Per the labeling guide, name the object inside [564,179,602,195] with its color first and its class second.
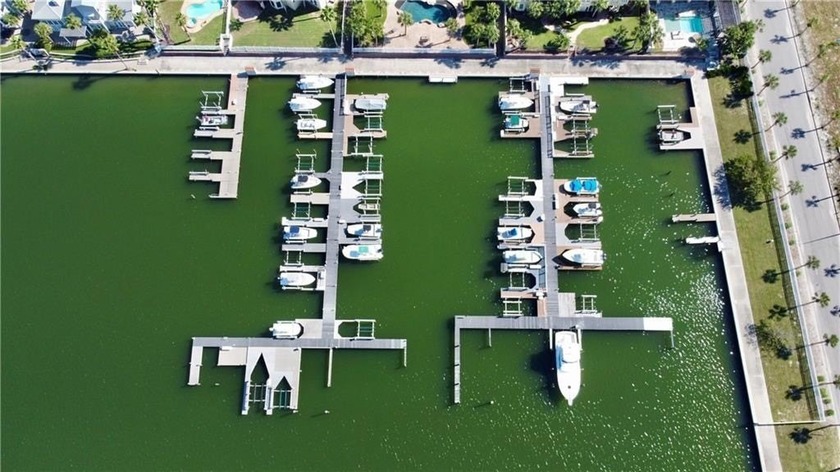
blue boat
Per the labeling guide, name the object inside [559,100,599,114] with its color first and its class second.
white boat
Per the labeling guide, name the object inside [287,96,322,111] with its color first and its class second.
white boat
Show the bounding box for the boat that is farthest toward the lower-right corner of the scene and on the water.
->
[554,332,581,405]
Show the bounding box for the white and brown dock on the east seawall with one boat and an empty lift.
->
[654,107,704,152]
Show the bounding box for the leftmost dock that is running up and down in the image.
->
[187,76,249,200]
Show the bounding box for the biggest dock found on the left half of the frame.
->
[187,72,409,415]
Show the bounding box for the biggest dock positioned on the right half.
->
[453,75,676,405]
